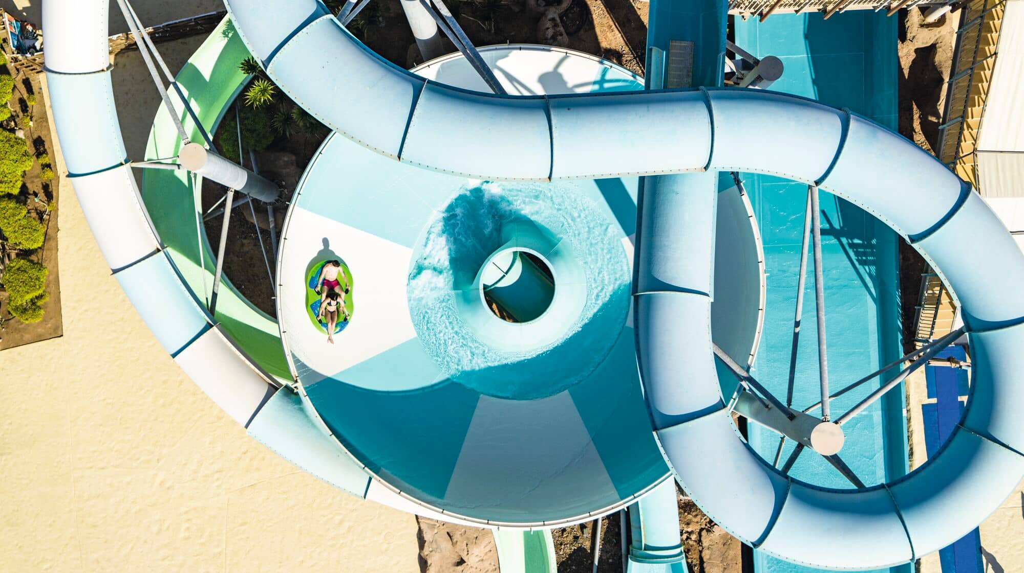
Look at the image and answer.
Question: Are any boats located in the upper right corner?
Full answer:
No, there is no boat in the upper right corner.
